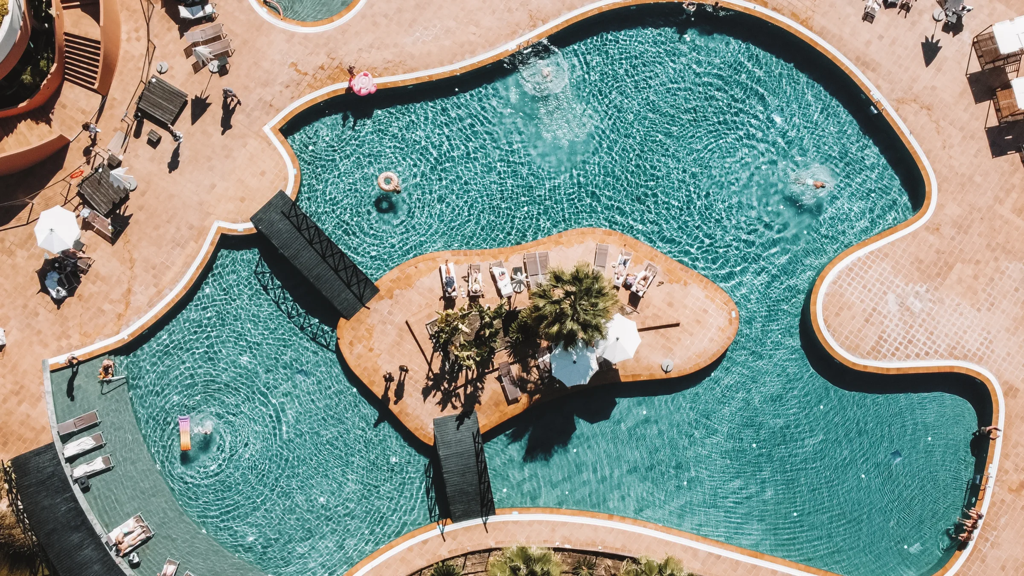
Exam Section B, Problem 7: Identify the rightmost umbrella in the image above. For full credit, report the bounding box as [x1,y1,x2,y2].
[933,0,963,21]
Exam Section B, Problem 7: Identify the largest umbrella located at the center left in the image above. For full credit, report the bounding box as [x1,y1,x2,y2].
[34,208,85,257]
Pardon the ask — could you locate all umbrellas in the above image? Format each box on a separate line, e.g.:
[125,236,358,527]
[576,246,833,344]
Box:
[109,168,139,190]
[549,342,599,387]
[193,45,221,72]
[34,208,85,257]
[933,0,963,21]
[593,314,641,363]
[505,273,530,299]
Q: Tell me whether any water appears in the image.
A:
Yes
